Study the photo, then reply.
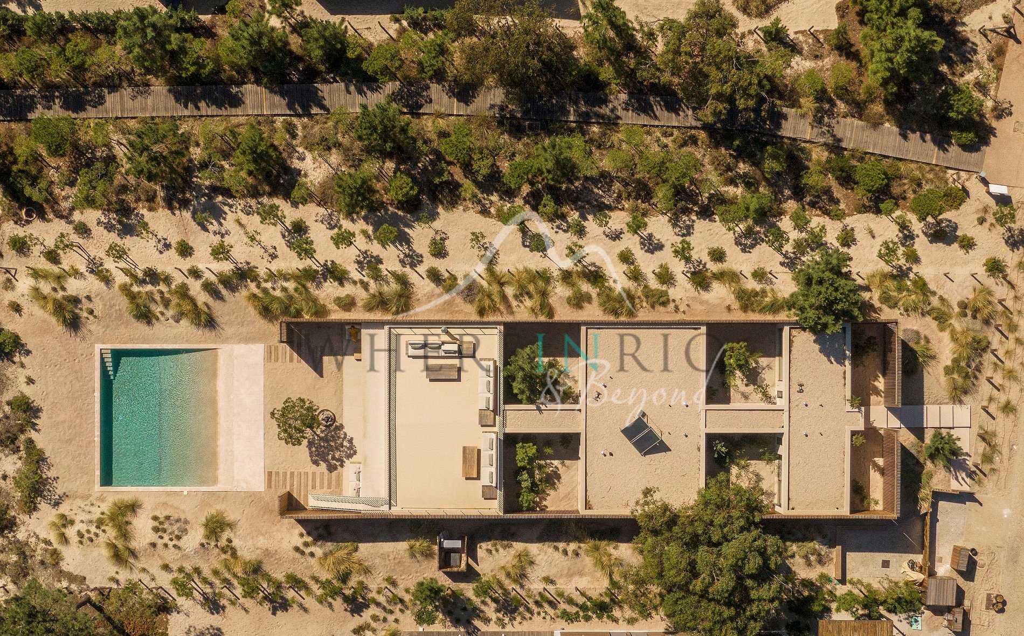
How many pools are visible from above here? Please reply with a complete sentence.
In total, there is 1 pool in the scene.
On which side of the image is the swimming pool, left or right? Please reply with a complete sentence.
It is on the left.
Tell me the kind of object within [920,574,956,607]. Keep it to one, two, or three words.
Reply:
shed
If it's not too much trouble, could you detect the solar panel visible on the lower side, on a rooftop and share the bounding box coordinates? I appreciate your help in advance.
[620,408,661,455]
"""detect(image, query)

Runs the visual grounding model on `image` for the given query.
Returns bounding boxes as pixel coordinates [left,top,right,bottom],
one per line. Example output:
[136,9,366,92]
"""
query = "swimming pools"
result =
[96,345,264,491]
